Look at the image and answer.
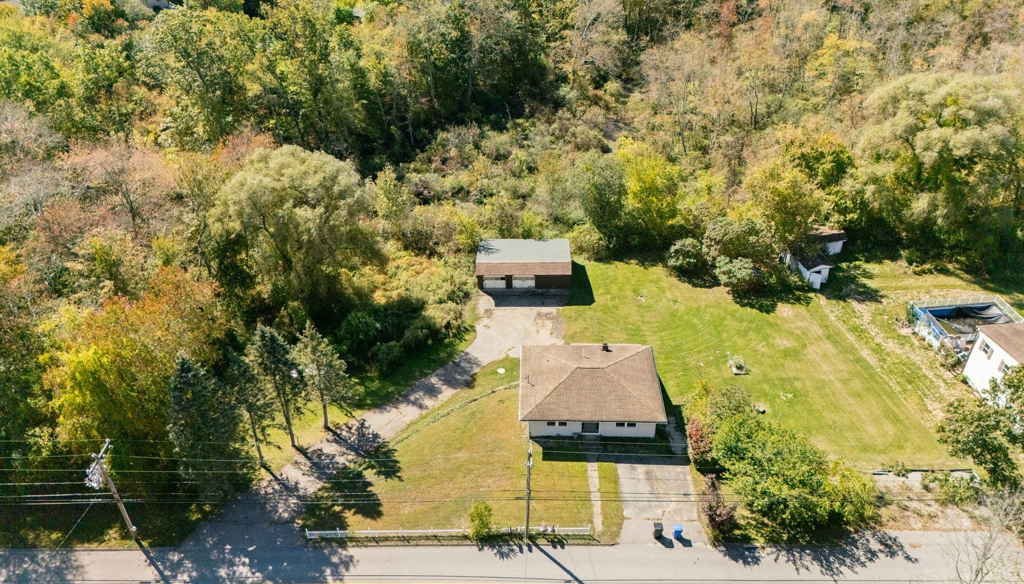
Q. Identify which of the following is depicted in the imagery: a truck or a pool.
pool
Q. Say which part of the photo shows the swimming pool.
right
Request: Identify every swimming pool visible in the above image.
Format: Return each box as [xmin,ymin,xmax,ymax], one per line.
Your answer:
[899,294,1018,372]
